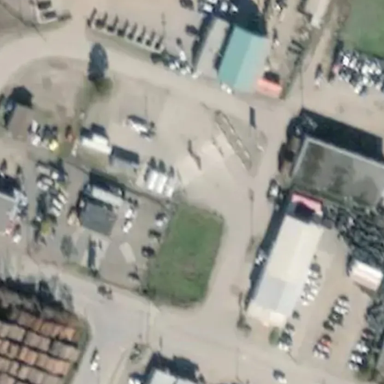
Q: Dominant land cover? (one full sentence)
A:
The bulk of the photo consists of paved ground.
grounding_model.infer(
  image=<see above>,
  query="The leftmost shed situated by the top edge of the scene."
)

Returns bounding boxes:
[191,17,231,80]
